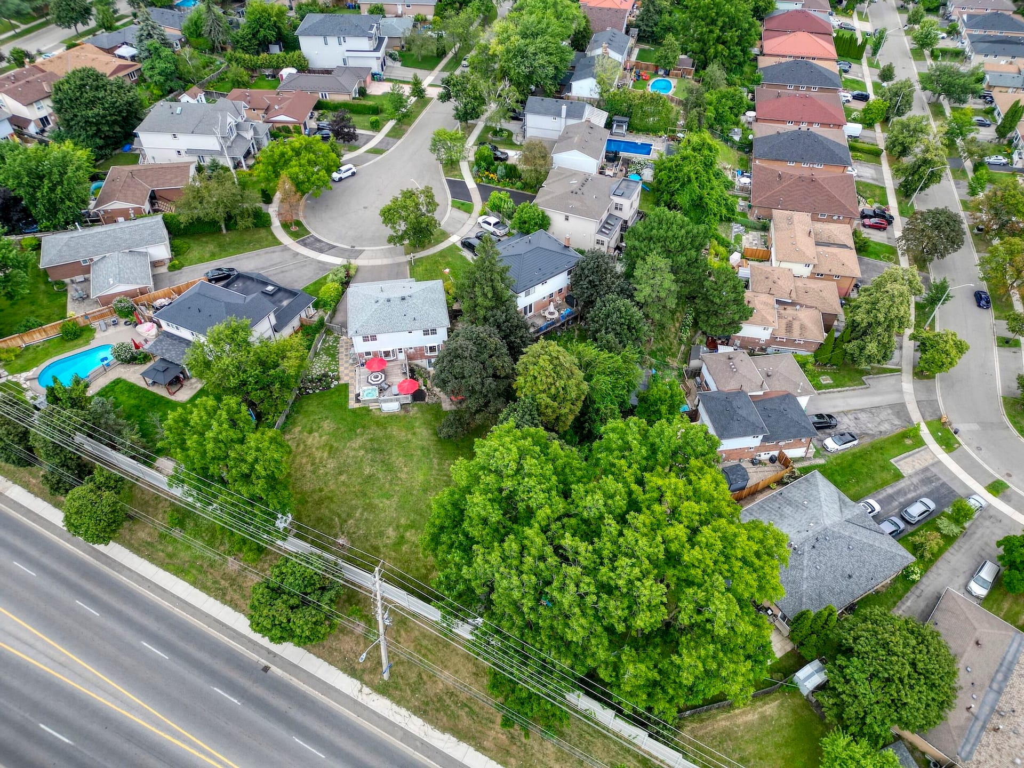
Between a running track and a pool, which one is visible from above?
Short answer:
pool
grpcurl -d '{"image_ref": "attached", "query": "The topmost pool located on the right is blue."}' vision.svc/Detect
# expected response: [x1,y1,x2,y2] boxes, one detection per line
[649,77,673,92]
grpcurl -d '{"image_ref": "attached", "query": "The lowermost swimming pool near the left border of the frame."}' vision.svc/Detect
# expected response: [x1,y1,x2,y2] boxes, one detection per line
[35,342,117,390]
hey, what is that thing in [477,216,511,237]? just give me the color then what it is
white truck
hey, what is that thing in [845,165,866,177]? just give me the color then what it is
white vehicle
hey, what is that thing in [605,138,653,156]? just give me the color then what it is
blue swimming pool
